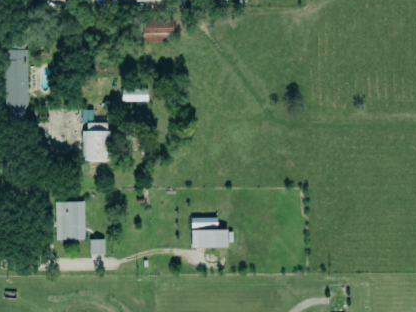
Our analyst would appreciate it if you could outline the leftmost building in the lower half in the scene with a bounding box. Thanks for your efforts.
[56,202,86,240]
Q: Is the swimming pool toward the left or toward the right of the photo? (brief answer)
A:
left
